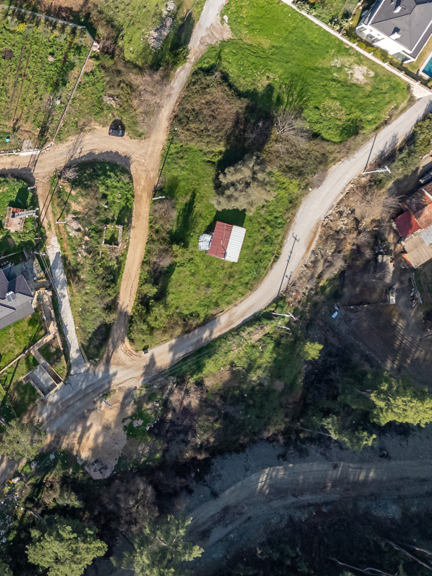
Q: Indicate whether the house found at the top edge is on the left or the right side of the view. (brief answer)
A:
right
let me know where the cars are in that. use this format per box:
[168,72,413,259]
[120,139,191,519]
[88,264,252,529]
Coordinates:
[418,172,432,186]
[109,128,125,137]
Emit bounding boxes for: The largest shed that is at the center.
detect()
[205,221,247,262]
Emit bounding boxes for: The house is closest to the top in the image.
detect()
[355,0,432,71]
